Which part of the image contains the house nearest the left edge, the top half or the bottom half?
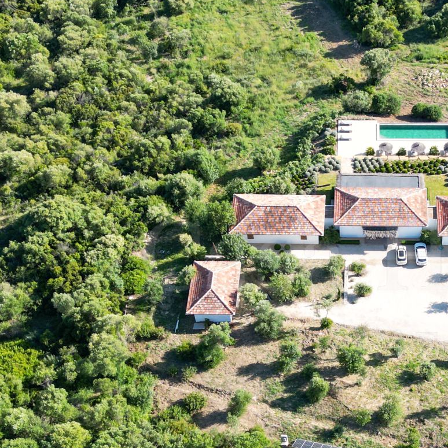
bottom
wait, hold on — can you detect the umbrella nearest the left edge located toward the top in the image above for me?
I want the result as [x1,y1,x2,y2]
[376,143,395,157]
